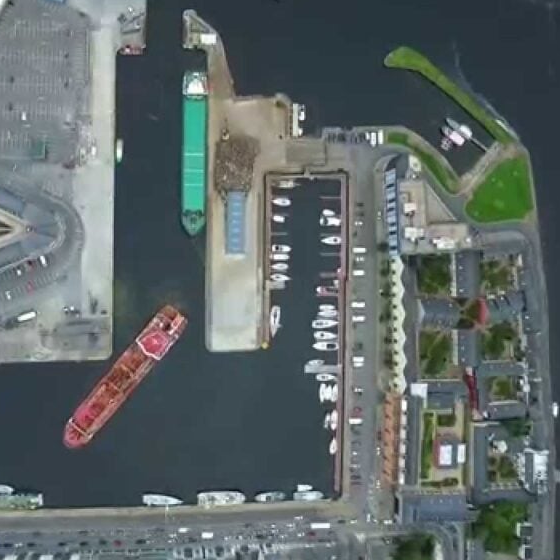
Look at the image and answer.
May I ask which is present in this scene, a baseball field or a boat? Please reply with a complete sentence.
Looking from above, you can make out a boat.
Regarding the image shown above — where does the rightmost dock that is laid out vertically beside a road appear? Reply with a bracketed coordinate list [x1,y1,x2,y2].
[317,180,346,496]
